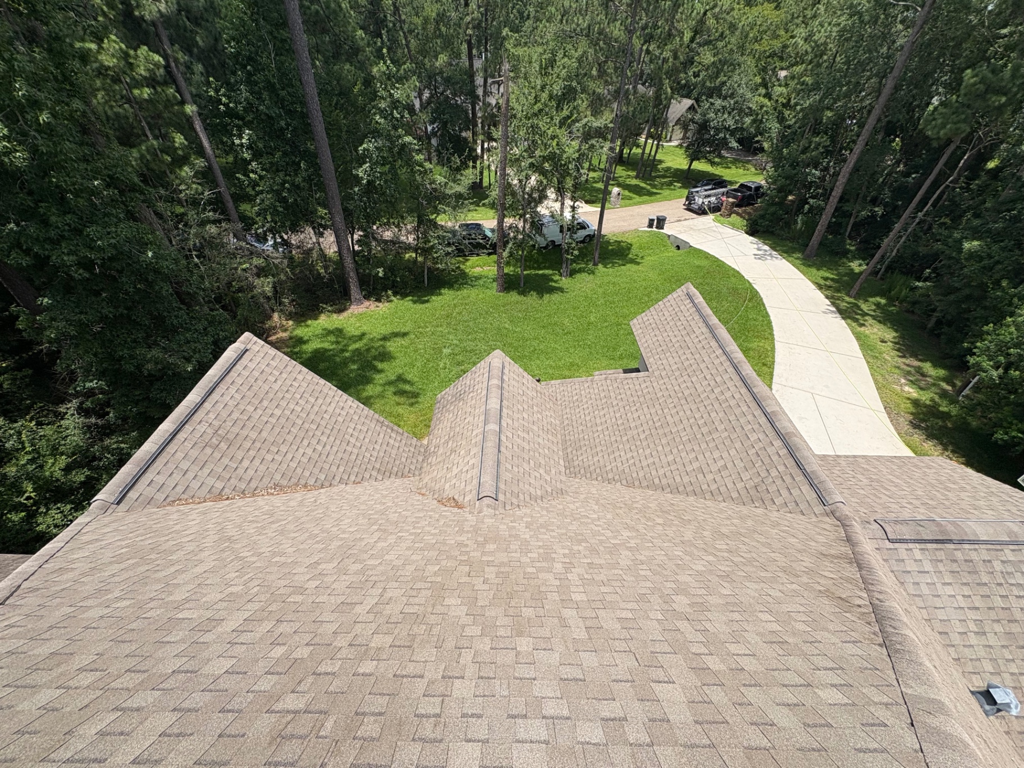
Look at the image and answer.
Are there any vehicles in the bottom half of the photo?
No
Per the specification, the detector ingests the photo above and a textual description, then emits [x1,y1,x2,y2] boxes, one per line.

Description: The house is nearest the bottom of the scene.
[0,282,1024,768]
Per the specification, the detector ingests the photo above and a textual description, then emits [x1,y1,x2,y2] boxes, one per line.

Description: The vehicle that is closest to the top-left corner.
[445,216,498,251]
